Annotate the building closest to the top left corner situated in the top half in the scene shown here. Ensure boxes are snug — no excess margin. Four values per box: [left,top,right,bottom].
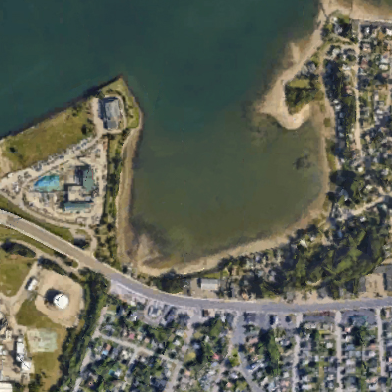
[104,98,120,130]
